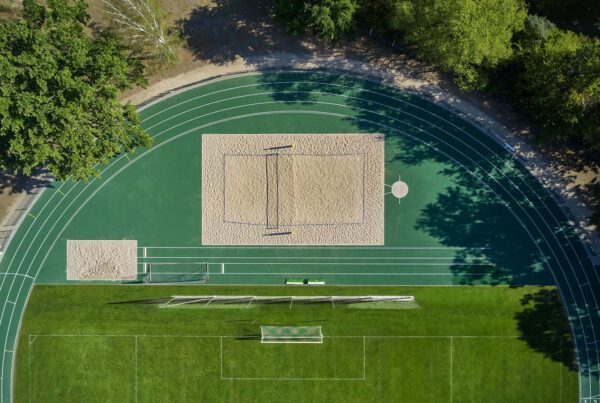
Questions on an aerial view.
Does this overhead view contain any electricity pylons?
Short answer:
No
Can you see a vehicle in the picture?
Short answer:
No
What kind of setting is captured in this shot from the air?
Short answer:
sports ground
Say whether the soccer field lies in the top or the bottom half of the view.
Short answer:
bottom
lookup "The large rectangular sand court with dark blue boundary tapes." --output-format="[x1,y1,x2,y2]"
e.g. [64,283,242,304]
[202,134,385,245]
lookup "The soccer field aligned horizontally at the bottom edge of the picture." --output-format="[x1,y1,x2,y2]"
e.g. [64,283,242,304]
[29,336,562,403]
